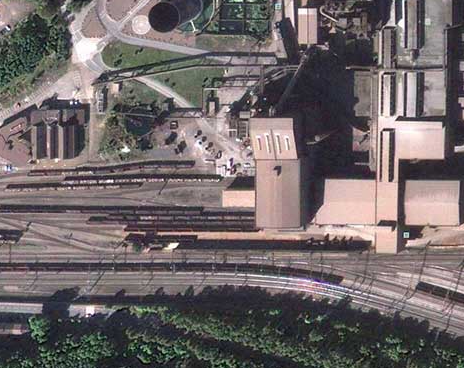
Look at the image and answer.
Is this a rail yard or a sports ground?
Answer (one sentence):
The area seen from above is a rail yard.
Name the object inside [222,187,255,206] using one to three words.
shed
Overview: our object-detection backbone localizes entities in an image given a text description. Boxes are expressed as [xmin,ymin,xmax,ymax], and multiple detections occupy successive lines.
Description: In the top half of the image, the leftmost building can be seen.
[0,115,30,142]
